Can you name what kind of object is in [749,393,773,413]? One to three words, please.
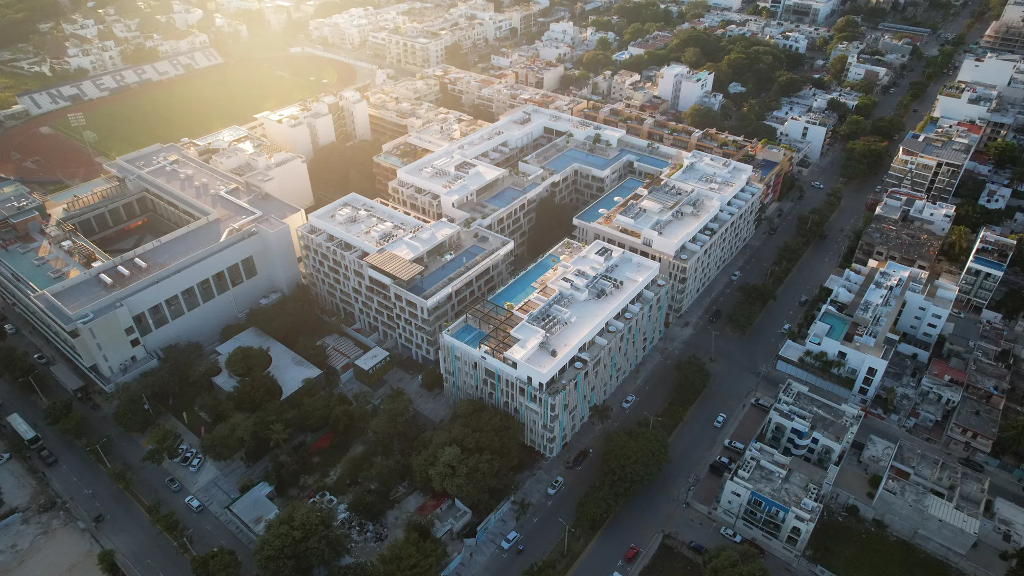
car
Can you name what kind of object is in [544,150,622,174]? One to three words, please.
swimming pool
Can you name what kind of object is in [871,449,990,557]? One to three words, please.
house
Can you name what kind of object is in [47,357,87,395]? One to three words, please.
truck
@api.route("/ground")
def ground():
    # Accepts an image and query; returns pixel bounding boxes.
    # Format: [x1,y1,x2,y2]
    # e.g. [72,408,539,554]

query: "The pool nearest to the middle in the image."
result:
[492,255,560,306]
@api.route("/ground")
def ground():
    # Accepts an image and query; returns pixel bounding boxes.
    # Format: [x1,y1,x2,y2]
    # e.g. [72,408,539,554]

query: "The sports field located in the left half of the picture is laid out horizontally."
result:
[46,62,346,162]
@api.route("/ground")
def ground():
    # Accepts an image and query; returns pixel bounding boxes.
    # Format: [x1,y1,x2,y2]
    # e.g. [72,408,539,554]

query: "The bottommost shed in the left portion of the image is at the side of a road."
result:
[229,482,280,542]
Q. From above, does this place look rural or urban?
urban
